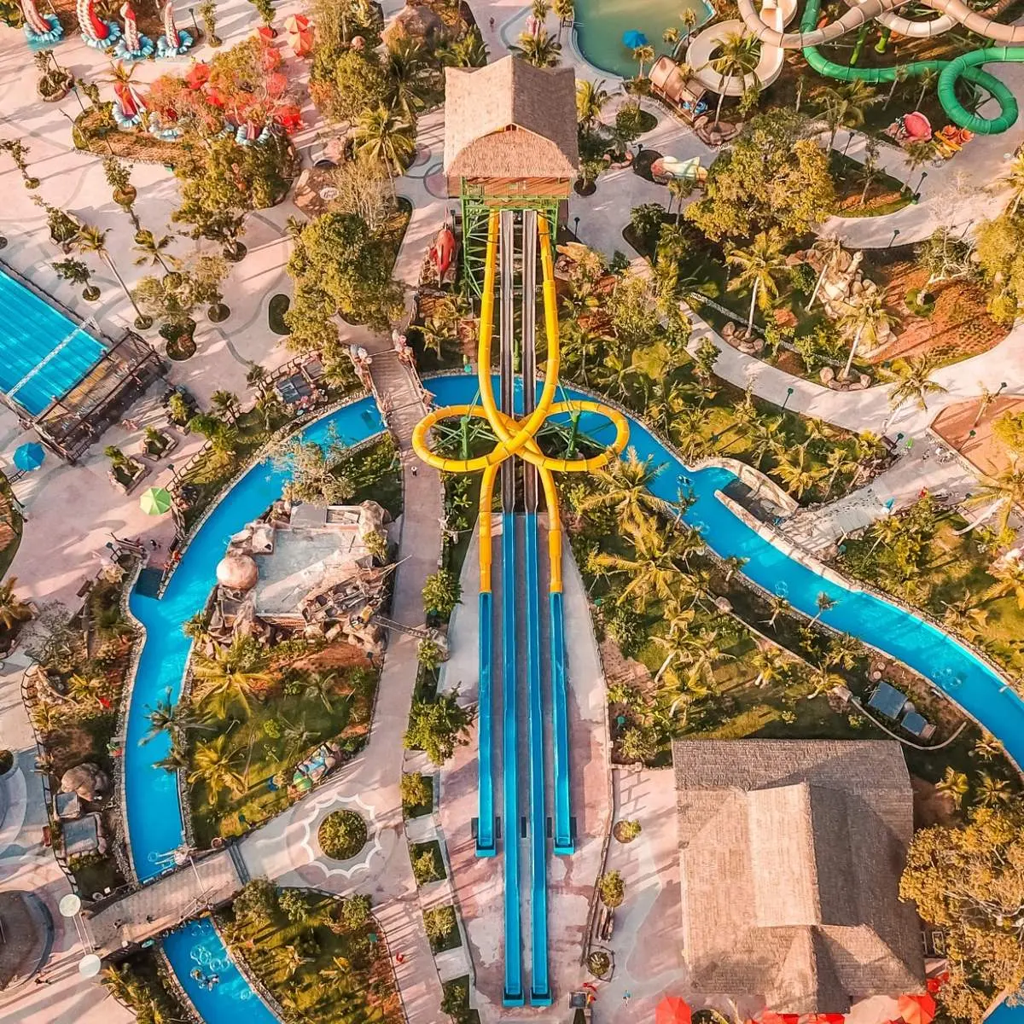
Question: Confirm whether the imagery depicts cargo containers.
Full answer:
No, the scene contains no cargo container.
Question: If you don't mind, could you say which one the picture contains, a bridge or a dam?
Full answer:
Visible in the photo is a bridge.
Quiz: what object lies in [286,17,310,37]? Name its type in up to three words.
umbrella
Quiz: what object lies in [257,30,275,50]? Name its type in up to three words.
umbrella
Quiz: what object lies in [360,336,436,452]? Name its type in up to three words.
bridge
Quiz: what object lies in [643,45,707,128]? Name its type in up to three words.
shed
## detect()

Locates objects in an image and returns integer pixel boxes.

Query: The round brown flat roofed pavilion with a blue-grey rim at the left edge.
[0,884,55,999]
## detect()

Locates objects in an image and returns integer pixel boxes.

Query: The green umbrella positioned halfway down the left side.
[141,489,171,516]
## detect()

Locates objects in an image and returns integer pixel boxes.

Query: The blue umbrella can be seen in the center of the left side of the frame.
[14,445,46,473]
